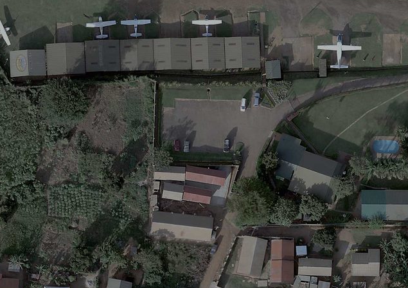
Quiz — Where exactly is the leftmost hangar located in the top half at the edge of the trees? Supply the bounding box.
[9,50,45,78]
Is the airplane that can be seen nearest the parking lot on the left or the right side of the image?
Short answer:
right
